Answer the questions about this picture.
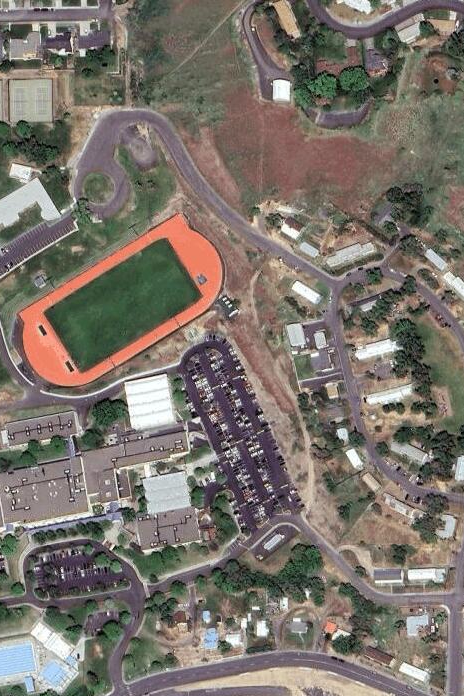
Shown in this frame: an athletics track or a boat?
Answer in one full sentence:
This aerial view contains an athletics track.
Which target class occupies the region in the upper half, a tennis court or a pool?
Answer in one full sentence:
Visible in the upper half is a tennis court.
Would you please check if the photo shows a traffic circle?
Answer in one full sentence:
Yes, a traffic circle appears in the view.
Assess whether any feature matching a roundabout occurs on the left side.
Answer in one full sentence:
Yes, you'll find a roundabout on the left side.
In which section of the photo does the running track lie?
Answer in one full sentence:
You can find the running track in the left area of the picture.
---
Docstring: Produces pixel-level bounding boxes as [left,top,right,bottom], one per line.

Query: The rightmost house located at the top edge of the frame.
[433,18,457,34]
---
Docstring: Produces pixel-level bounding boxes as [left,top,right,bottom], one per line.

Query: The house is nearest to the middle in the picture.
[285,323,306,348]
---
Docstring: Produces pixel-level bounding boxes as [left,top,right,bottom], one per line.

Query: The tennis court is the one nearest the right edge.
[9,78,52,122]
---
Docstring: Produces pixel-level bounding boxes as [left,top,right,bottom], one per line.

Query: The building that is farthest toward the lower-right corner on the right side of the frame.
[399,661,430,685]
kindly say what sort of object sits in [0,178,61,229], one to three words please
building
